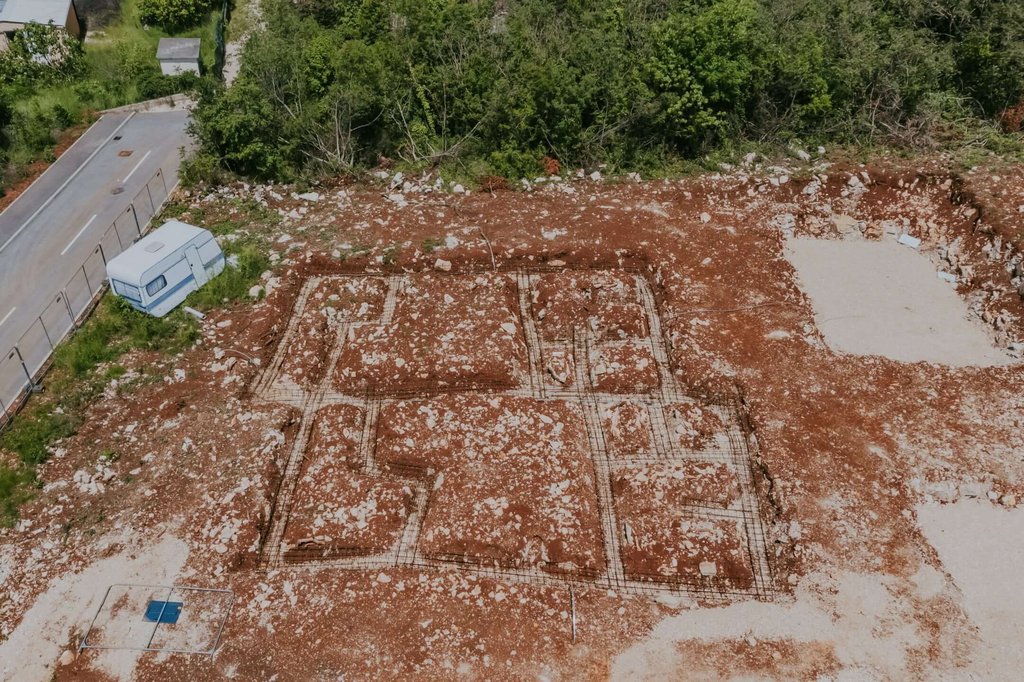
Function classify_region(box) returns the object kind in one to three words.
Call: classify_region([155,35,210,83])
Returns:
shed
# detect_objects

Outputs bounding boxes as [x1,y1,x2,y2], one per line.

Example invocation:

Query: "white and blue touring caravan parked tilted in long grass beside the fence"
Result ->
[104,223,224,317]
